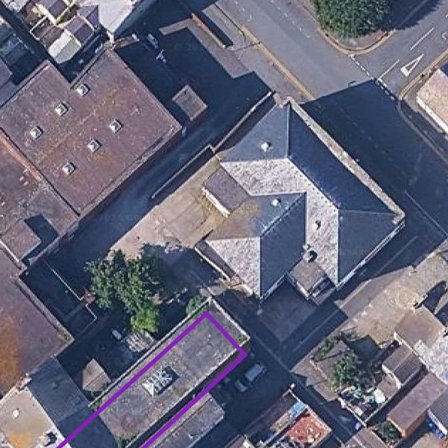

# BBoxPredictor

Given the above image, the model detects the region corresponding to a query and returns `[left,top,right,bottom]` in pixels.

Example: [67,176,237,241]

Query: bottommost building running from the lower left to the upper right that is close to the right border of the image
[387,372,447,436]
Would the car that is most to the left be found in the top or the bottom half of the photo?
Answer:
bottom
